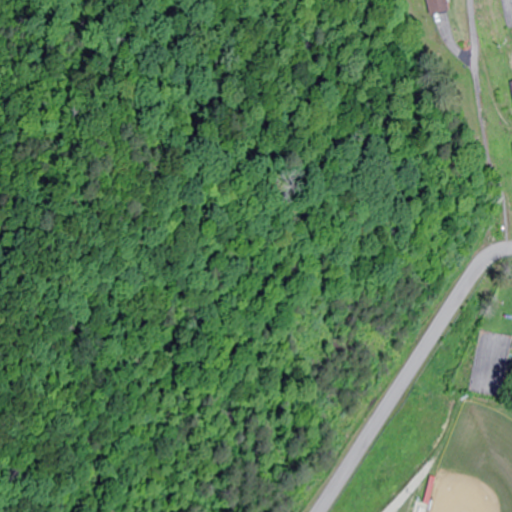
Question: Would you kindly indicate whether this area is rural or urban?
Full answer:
The area is rural.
